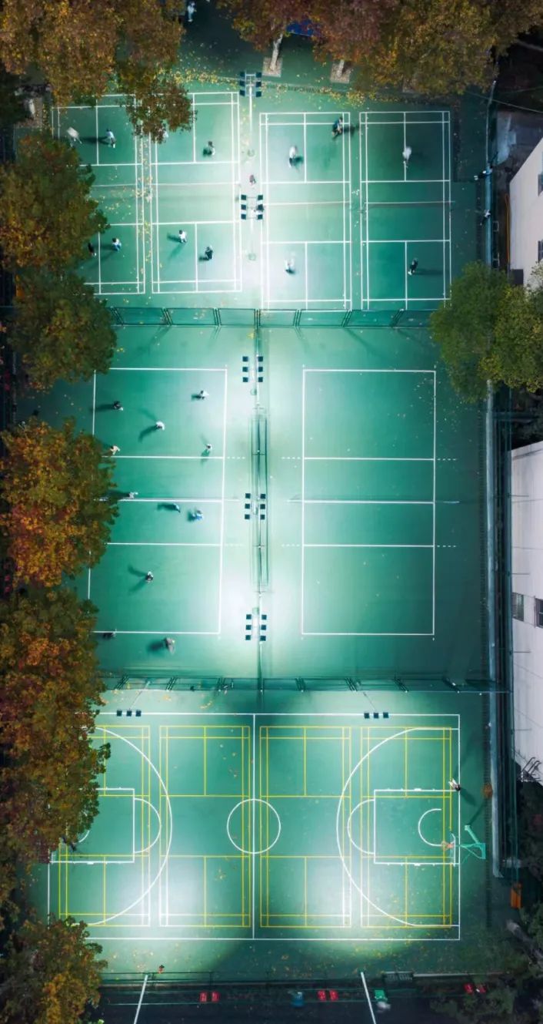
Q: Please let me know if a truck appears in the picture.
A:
No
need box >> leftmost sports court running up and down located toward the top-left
[49,89,148,301]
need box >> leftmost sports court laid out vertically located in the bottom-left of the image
[59,726,150,927]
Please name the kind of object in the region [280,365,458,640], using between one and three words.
sports court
